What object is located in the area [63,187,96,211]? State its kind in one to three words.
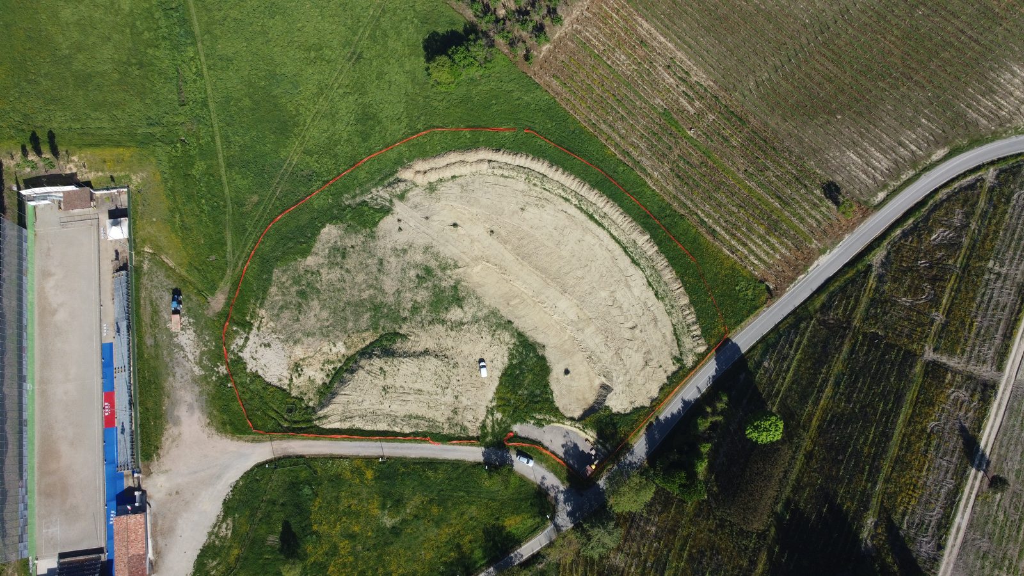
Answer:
shed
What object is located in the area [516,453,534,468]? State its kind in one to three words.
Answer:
car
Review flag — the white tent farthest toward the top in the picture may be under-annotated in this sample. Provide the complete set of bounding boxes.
[107,219,129,242]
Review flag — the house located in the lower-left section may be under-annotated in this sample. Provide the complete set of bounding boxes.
[110,510,157,576]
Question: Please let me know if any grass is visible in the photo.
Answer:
Yes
